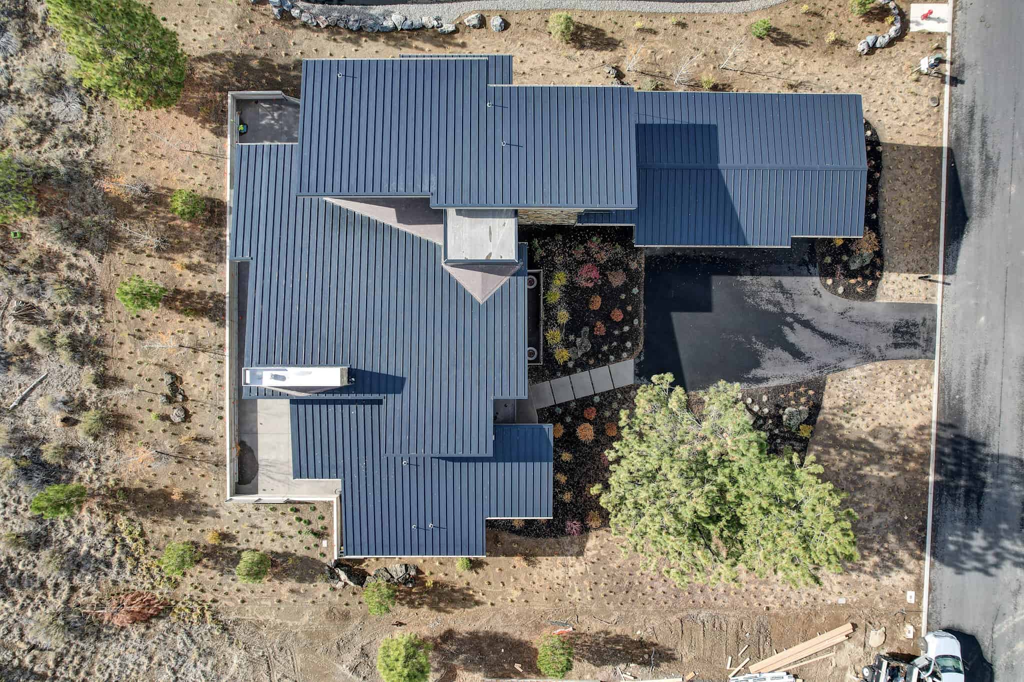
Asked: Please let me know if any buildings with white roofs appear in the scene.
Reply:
No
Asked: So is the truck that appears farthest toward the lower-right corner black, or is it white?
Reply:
white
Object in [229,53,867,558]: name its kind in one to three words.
house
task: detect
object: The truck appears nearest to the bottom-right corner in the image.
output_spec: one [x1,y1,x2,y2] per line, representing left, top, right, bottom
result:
[907,625,968,682]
